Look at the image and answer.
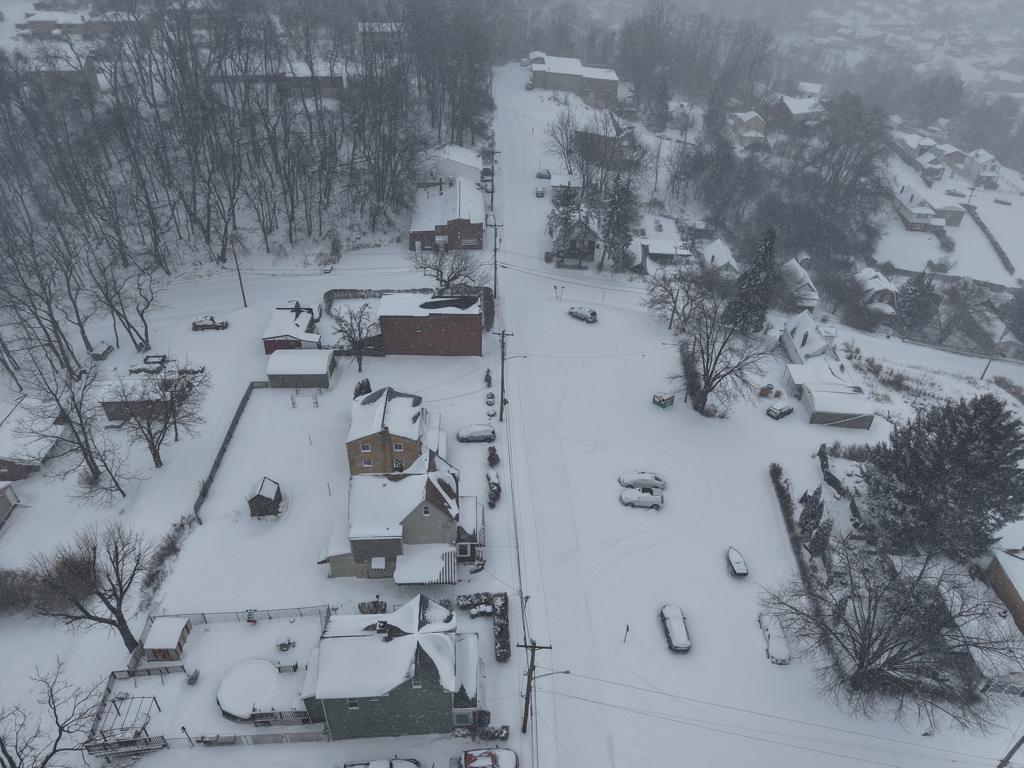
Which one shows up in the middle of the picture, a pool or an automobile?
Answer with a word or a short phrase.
automobile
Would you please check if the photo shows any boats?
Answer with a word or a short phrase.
Yes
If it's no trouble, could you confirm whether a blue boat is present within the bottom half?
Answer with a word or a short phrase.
No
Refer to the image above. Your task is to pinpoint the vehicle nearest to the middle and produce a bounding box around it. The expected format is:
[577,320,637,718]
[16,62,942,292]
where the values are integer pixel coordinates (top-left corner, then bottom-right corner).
[458,425,496,445]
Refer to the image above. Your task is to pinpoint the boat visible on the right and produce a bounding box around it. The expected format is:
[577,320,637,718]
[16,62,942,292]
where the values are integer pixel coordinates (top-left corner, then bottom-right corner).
[726,538,751,576]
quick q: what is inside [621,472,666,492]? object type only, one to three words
car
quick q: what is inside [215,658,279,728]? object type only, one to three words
swimming pool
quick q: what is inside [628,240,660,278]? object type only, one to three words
building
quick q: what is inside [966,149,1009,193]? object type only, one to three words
house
